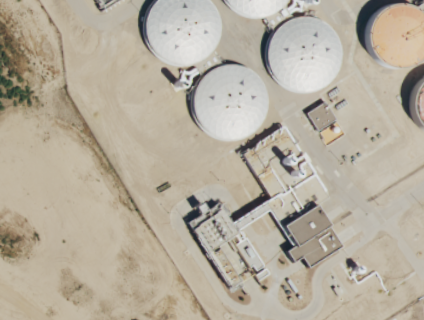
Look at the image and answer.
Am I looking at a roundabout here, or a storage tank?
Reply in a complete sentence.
Looking from above, you can make out a storage tank.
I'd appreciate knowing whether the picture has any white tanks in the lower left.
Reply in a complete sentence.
No, looking in the lower left, there is no white tank.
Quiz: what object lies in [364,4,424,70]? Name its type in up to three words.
storage tank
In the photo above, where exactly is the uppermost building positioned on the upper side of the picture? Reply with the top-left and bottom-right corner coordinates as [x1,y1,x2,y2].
[306,103,335,132]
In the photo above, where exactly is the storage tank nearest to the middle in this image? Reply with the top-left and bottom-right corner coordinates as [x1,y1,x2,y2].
[191,64,268,142]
